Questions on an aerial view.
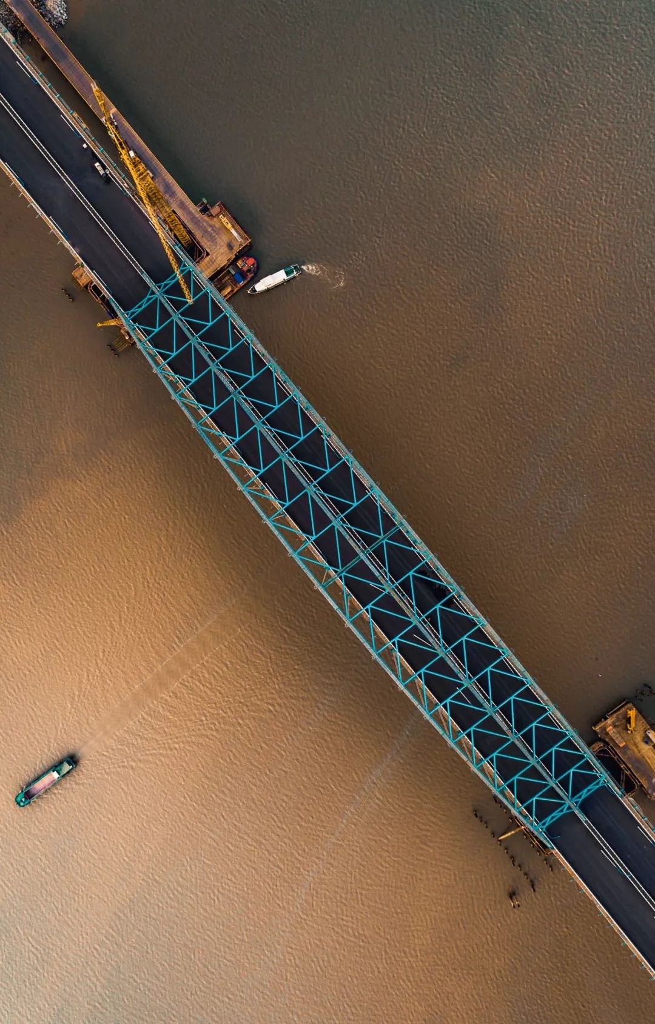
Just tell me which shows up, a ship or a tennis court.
ship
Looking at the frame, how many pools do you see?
0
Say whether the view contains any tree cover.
No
